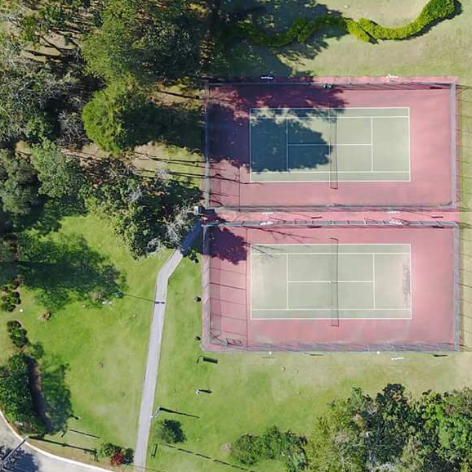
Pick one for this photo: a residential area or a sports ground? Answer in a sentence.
The picture captures a sports ground.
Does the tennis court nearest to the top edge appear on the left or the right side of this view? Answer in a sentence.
It is on the right.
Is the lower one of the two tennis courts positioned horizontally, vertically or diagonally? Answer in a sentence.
Seen from above, the lower one of the two tennis courts lies horizontally.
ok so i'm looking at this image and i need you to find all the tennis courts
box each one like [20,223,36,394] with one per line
[202,224,460,351]
[201,77,459,211]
